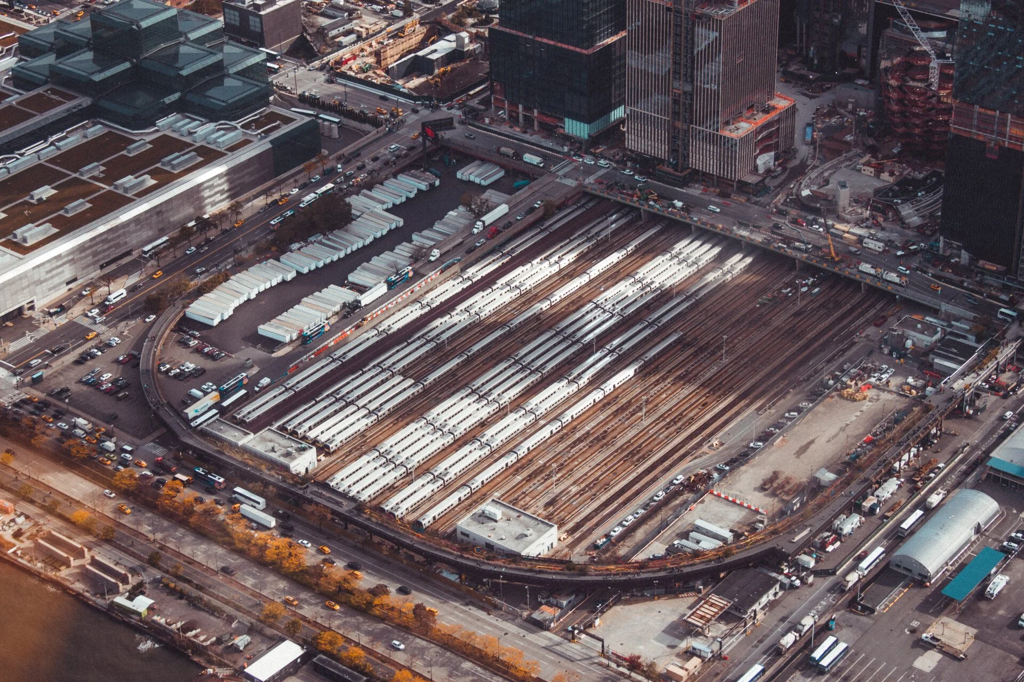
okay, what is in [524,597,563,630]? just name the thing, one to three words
shed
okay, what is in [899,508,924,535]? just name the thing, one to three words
bus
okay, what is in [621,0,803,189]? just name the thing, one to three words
building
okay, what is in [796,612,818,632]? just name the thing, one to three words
vehicle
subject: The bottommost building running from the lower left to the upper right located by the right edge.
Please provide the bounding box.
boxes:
[890,485,1005,584]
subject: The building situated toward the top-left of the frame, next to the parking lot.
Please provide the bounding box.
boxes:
[0,0,311,333]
